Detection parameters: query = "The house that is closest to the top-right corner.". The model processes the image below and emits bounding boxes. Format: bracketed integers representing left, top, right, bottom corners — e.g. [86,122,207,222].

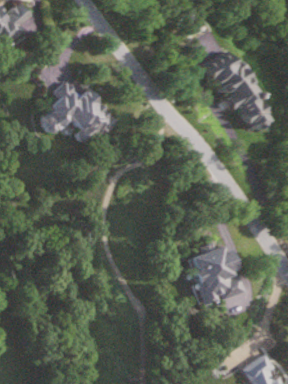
[204,50,276,133]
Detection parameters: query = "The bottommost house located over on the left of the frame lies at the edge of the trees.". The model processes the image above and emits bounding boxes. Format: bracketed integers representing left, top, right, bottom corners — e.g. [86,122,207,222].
[40,80,110,143]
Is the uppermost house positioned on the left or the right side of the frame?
left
